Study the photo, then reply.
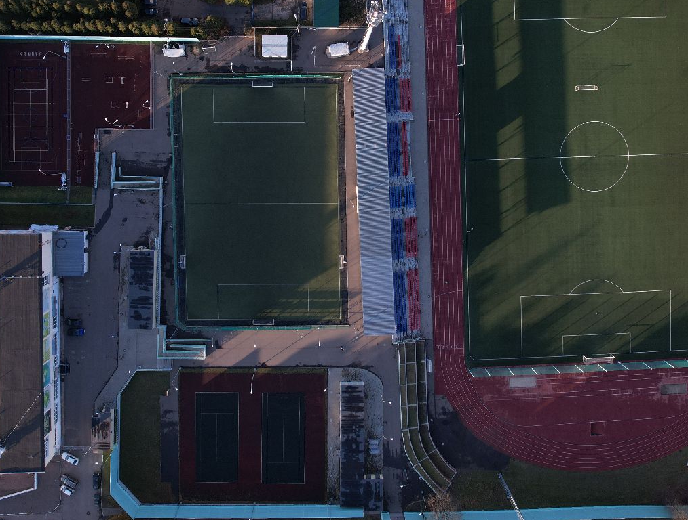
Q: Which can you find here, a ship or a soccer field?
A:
soccer field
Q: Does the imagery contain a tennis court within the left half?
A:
Yes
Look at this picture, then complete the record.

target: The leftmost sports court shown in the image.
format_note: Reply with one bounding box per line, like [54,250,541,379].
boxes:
[0,44,67,187]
